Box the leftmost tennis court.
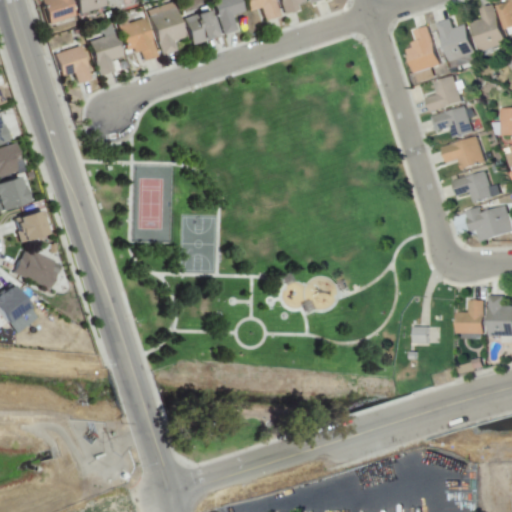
[133,164,172,244]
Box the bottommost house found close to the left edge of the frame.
[0,289,36,329]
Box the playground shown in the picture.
[278,274,340,314]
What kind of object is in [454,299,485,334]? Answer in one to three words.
house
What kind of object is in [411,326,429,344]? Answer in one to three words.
building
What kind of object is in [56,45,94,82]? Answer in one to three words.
house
